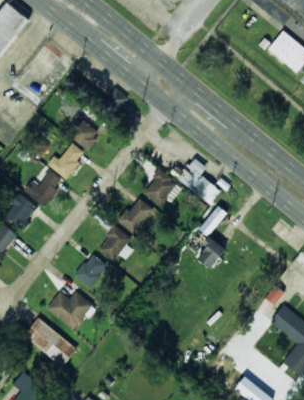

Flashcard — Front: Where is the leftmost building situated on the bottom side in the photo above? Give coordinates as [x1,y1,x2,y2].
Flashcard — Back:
[0,226,18,259]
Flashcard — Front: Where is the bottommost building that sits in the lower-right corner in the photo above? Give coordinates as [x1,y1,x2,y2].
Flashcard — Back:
[235,377,272,400]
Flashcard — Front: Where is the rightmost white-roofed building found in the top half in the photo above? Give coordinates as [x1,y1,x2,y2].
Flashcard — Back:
[268,30,304,73]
